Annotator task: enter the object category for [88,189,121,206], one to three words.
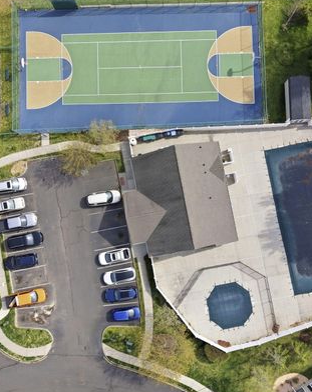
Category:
car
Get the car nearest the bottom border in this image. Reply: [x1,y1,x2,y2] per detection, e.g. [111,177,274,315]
[112,306,141,322]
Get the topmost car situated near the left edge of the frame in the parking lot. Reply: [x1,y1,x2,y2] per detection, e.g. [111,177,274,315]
[0,176,28,193]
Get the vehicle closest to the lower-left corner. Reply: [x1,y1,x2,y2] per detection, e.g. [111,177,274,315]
[4,289,46,307]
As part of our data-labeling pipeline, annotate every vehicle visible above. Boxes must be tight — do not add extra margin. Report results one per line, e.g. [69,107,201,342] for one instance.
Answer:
[99,249,131,265]
[6,253,38,271]
[0,214,39,232]
[5,231,44,249]
[88,189,121,206]
[112,306,141,322]
[0,176,28,193]
[104,268,136,285]
[105,287,138,304]
[0,197,26,213]
[4,289,46,307]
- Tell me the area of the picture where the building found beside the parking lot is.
center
